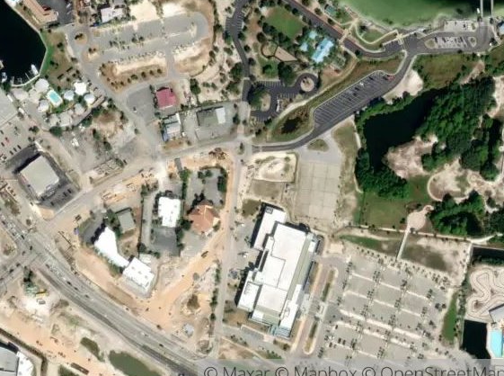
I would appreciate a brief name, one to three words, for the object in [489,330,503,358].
swimming pool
